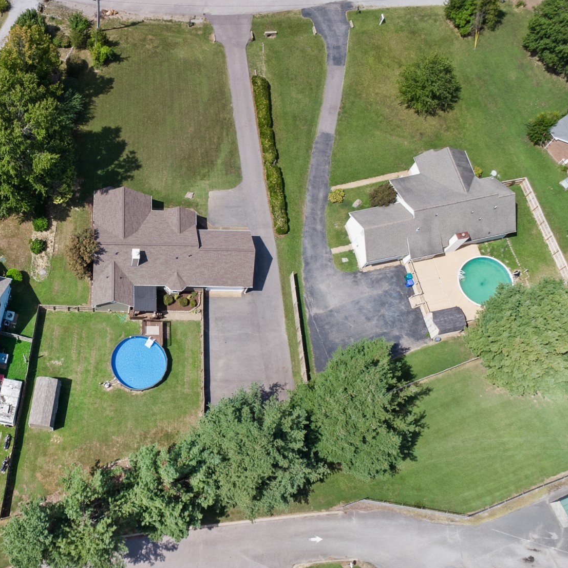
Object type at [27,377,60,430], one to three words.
shed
